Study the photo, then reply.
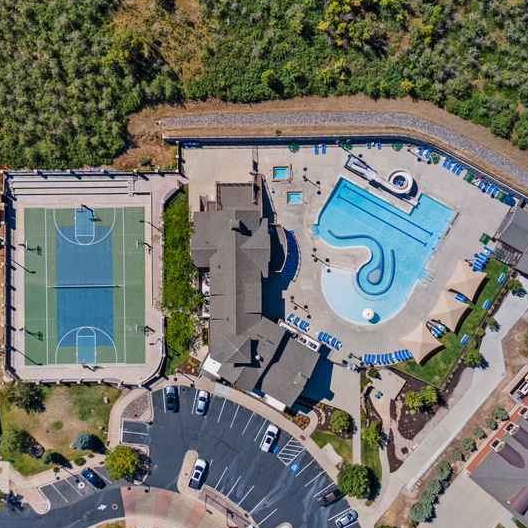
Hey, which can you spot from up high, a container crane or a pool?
pool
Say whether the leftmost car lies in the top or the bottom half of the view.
bottom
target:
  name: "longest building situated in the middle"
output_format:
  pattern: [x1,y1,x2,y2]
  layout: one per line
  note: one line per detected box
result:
[191,173,286,390]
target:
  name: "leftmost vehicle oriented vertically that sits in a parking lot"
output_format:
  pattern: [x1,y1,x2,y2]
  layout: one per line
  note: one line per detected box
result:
[165,385,177,412]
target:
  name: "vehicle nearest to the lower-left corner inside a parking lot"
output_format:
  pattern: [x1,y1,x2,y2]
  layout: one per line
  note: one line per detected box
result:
[83,465,106,489]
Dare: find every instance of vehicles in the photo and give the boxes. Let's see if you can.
[313,486,344,510]
[165,385,177,412]
[260,422,278,453]
[333,509,359,527]
[196,389,209,416]
[188,457,208,491]
[83,465,106,489]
